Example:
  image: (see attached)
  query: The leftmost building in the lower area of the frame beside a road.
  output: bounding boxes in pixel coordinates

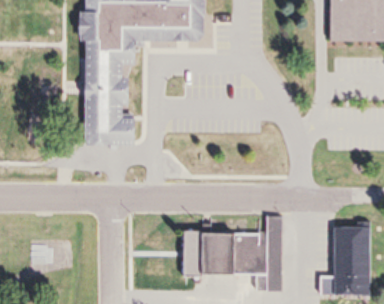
[184,216,282,290]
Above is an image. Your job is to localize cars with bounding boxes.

[186,72,192,84]
[229,84,235,96]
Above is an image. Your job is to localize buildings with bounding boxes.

[79,0,206,144]
[330,0,384,40]
[184,216,282,290]
[320,226,372,294]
